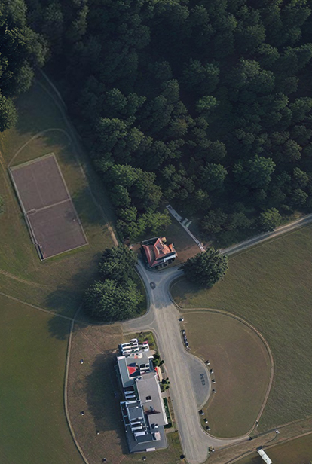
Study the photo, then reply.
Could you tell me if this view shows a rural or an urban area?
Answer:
rural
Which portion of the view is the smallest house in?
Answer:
center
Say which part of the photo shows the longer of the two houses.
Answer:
bottom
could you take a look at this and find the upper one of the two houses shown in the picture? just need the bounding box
[141,236,177,270]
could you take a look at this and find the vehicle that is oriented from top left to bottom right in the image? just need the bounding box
[257,448,272,464]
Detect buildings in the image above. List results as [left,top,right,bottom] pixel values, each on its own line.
[114,350,170,453]
[141,236,177,270]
